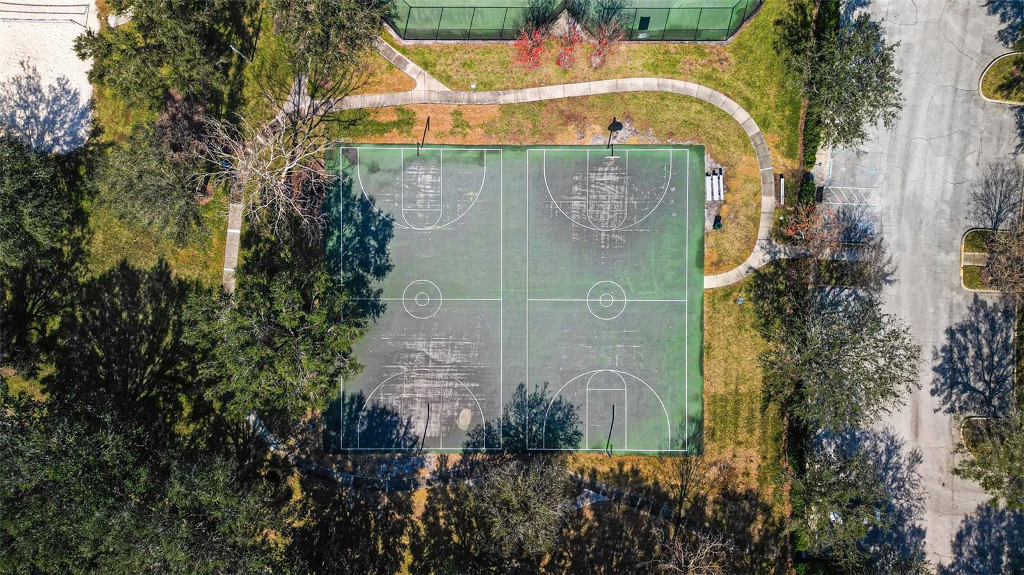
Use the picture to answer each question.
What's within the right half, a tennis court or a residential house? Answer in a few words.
tennis court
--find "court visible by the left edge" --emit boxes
[0,0,99,154]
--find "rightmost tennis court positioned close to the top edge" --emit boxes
[566,0,766,40]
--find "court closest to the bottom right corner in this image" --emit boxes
[514,144,704,456]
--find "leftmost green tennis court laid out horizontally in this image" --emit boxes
[360,0,566,40]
